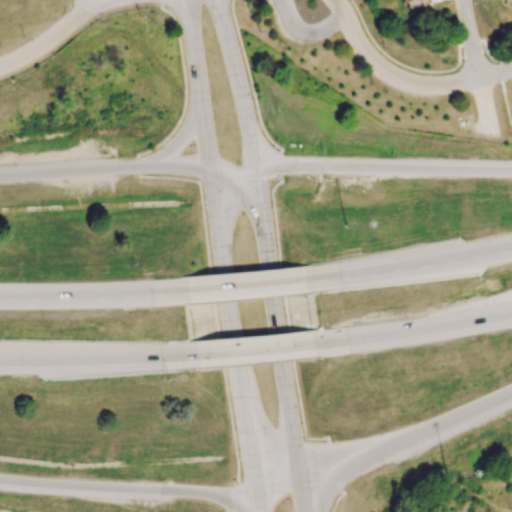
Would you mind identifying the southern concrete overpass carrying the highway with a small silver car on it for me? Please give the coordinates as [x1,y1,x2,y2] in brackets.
[192,329,326,370]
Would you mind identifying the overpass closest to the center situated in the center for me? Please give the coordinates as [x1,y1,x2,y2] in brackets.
[187,265,317,304]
